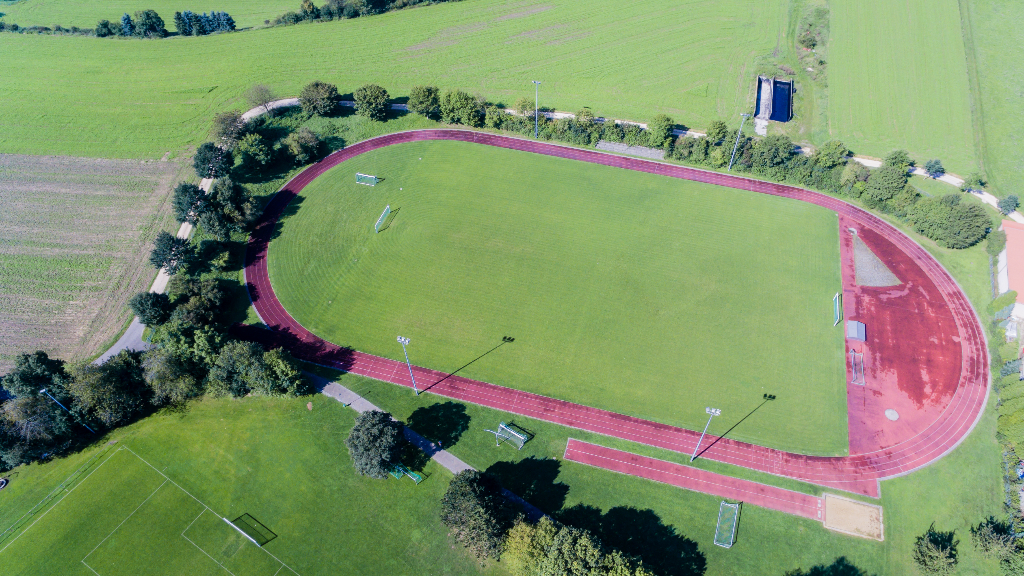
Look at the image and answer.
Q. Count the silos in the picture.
one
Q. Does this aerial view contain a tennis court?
No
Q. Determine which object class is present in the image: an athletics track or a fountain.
athletics track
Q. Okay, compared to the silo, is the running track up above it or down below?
below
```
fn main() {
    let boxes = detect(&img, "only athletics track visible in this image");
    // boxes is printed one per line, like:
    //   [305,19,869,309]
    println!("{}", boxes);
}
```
[246,130,989,481]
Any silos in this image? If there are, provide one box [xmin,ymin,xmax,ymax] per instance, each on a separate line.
[739,74,792,122]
